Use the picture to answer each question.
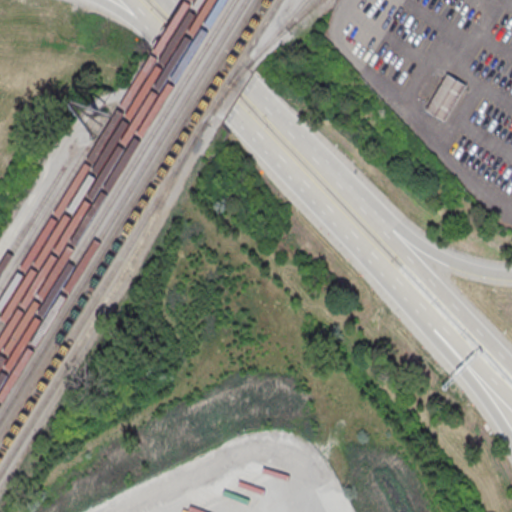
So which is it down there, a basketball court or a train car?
train car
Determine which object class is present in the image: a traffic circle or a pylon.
pylon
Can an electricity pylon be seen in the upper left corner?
Yes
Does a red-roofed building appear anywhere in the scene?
No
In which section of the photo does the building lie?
top right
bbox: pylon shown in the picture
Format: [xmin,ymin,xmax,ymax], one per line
[66,100,111,140]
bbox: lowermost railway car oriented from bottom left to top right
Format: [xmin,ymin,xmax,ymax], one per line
[2,396,40,452]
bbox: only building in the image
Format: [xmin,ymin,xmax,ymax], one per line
[426,74,470,122]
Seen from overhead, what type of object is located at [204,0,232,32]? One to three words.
rail car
